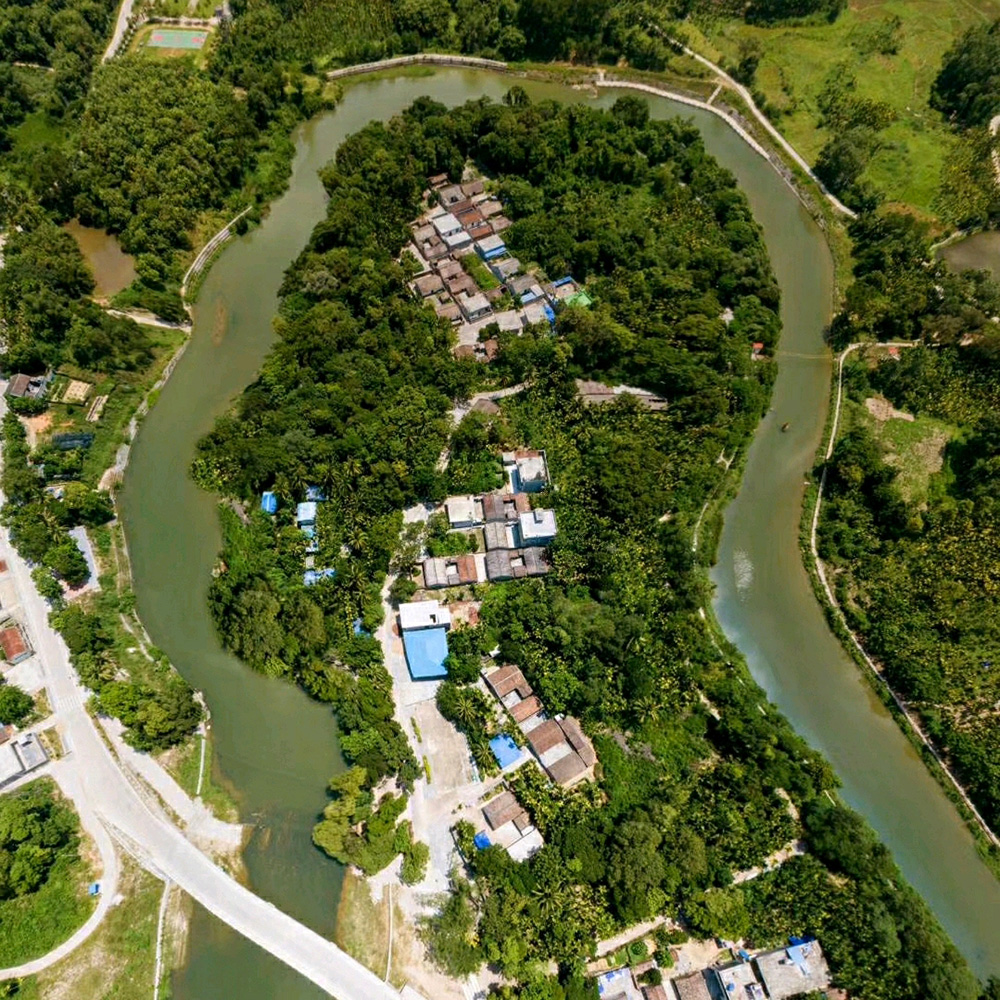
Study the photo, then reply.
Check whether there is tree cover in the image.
Yes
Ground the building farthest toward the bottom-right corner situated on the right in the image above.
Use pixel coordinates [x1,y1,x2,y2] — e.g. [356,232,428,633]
[751,940,830,1000]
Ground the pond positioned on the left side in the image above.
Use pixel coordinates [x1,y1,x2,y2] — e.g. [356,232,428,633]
[64,221,137,298]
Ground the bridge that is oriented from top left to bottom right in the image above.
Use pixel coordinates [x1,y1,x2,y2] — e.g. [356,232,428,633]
[167,854,406,1000]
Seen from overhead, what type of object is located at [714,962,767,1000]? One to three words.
house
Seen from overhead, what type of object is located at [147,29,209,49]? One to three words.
basketball court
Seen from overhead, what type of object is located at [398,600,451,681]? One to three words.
building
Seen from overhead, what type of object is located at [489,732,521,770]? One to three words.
shed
